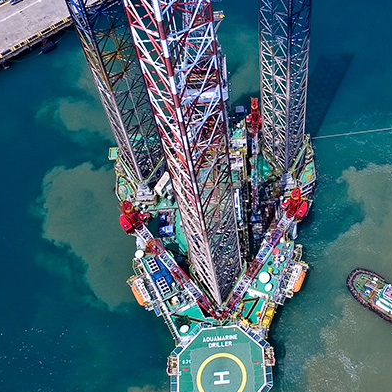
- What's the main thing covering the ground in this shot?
water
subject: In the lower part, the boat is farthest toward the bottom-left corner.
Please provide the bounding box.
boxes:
[130,283,148,314]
